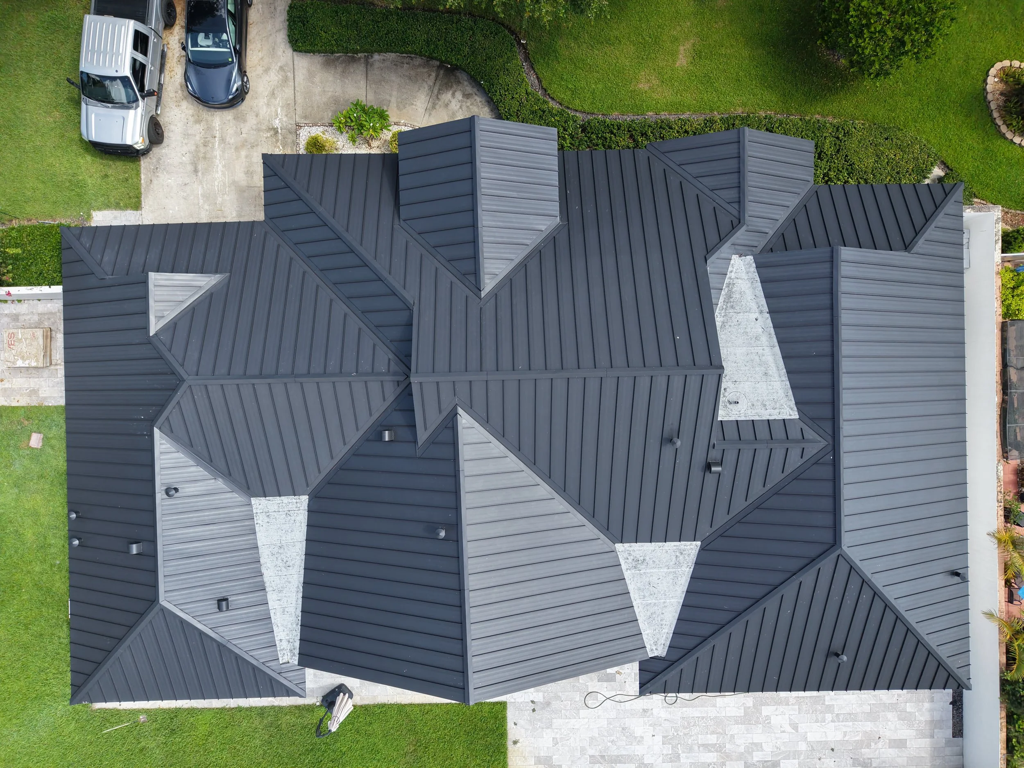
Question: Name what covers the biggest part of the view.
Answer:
buildings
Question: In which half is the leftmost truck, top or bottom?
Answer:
top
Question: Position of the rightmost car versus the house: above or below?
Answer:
above it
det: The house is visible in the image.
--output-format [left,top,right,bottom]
[59,114,974,706]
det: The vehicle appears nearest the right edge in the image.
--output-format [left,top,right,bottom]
[177,0,259,110]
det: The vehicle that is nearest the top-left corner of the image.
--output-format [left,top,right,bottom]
[67,0,176,158]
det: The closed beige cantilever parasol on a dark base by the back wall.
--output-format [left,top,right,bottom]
[315,685,354,739]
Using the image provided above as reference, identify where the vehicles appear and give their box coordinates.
[67,0,176,158]
[177,0,259,110]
